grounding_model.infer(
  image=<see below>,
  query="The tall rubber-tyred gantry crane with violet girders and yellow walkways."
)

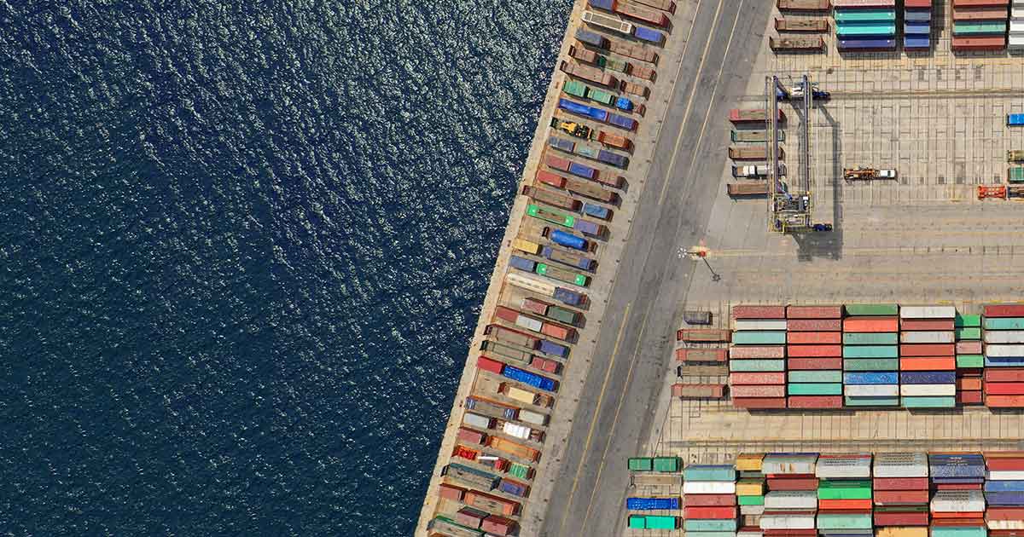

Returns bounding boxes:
[767,73,831,233]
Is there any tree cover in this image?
No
